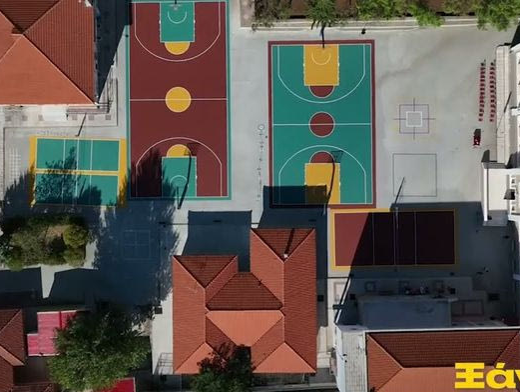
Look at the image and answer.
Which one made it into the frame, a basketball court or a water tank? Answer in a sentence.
The image shows a basketball court.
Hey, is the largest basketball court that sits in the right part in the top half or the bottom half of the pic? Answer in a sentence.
It is in the top half that the largest basketball court that sits in the right part appears.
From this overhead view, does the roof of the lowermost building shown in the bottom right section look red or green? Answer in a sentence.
The roof of the lowermost building shown in the bottom right section looks red in the image.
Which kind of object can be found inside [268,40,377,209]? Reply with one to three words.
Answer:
basketball court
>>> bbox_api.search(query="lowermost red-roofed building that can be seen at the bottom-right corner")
[335,311,520,392]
